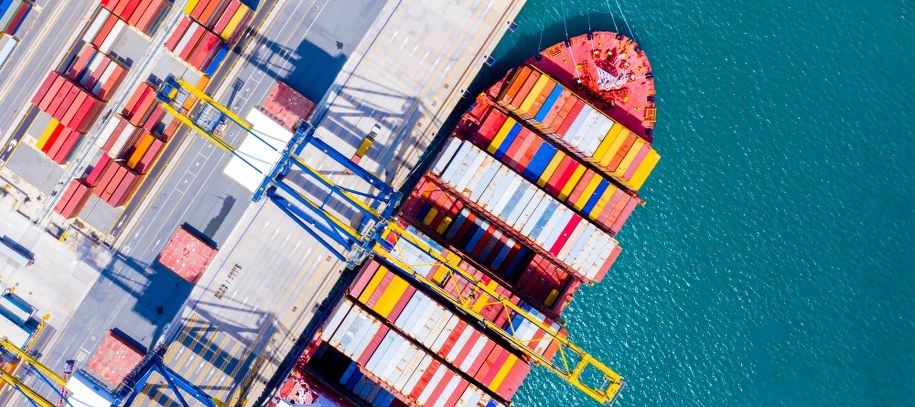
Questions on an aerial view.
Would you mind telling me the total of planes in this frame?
0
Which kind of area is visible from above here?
port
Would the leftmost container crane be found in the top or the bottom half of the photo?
bottom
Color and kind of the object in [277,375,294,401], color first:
red boat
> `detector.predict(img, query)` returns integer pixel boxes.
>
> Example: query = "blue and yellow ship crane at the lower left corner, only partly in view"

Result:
[0,332,257,407]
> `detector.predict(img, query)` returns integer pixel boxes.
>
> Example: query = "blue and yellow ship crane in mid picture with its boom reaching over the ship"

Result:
[149,72,628,407]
